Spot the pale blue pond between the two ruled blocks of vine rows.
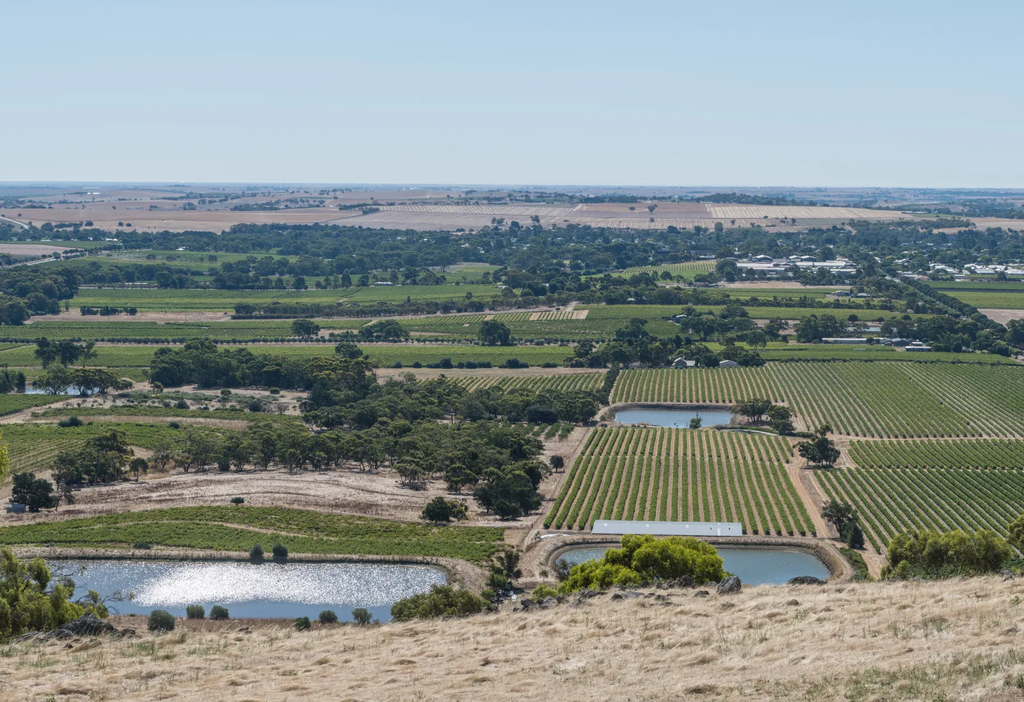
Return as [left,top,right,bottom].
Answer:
[612,409,736,427]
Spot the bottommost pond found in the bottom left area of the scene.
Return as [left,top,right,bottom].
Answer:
[45,561,452,622]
